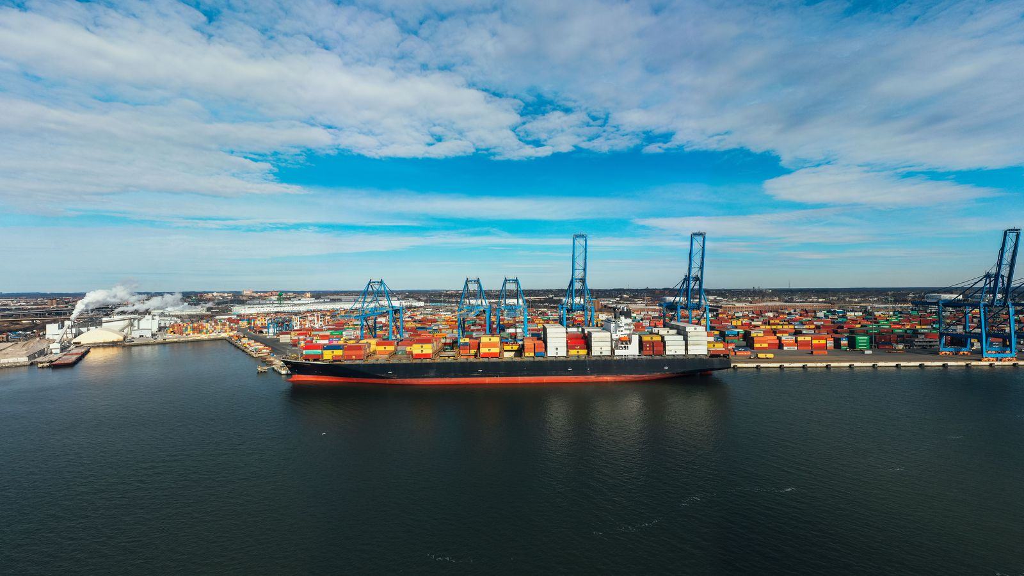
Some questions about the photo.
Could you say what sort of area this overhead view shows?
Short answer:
port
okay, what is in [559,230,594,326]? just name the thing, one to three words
container crane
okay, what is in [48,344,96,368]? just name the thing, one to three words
ship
